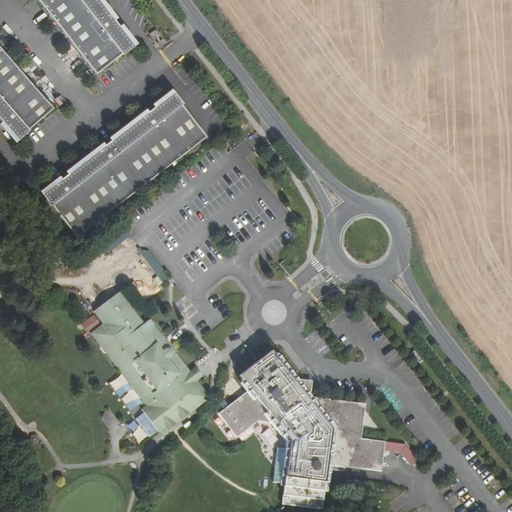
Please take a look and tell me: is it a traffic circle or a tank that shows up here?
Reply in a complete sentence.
Looking from above, you can make out a traffic circle.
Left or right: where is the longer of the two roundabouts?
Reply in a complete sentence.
It is on the right.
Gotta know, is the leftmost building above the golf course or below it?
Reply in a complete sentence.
Looking at the scene, the leftmost building is located above the golf course.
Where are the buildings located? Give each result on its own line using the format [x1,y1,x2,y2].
[0,46,55,142]
[90,292,206,434]
[41,89,208,236]
[138,248,168,282]
[384,440,416,465]
[240,350,336,510]
[39,0,140,74]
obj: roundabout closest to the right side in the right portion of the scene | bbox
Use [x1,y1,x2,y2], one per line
[321,186,414,300]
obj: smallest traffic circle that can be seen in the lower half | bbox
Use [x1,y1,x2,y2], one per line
[252,290,296,334]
